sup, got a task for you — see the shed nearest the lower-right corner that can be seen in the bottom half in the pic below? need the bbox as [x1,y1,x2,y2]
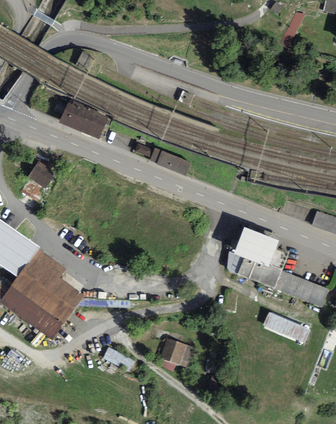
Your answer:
[264,312,311,345]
